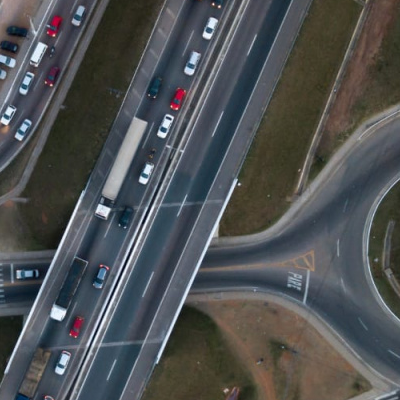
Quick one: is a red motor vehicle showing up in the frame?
Yes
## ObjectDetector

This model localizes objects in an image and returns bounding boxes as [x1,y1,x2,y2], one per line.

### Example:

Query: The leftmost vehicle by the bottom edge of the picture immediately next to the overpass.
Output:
[16,347,50,400]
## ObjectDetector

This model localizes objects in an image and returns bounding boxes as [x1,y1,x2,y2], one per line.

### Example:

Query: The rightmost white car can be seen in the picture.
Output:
[202,16,218,40]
